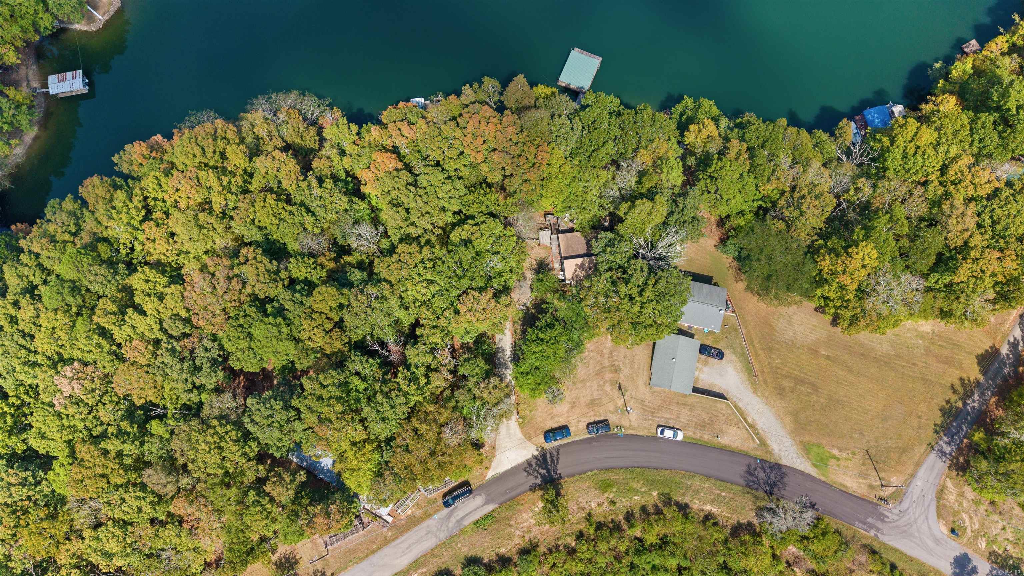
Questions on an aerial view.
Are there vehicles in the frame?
Yes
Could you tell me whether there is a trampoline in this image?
No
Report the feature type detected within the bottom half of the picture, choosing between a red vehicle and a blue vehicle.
blue vehicle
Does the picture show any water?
Yes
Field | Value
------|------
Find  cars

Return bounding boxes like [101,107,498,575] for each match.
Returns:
[545,428,572,444]
[588,423,612,436]
[442,487,473,510]
[655,426,683,440]
[698,345,725,359]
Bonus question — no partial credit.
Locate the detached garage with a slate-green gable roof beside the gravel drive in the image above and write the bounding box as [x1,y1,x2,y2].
[650,334,700,393]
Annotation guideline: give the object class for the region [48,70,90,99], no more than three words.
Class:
pier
